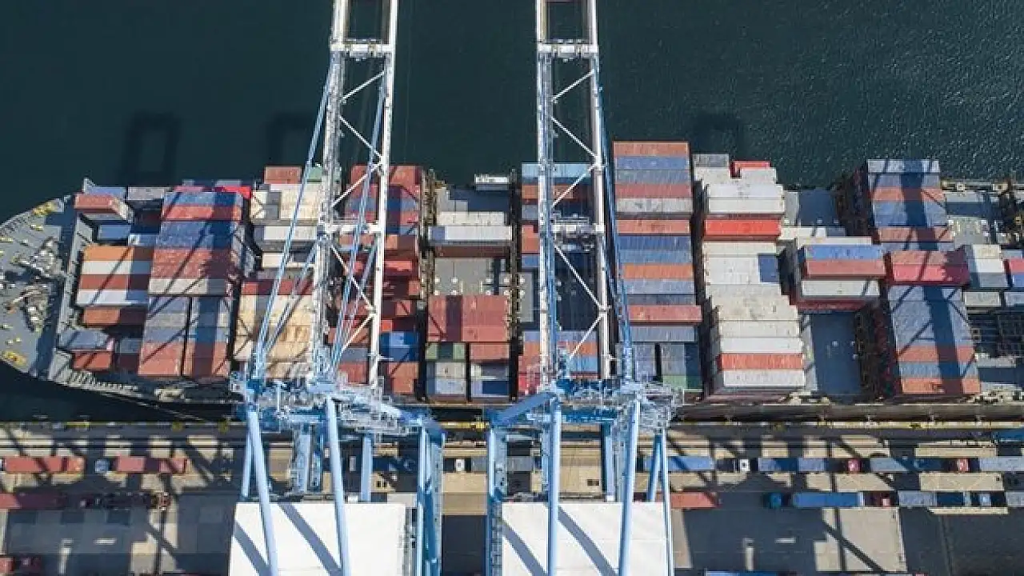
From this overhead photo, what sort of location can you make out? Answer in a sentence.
The area seen from above is a port.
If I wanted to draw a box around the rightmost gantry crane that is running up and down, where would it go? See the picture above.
[472,0,685,576]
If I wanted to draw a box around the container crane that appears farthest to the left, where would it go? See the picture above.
[228,0,482,576]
